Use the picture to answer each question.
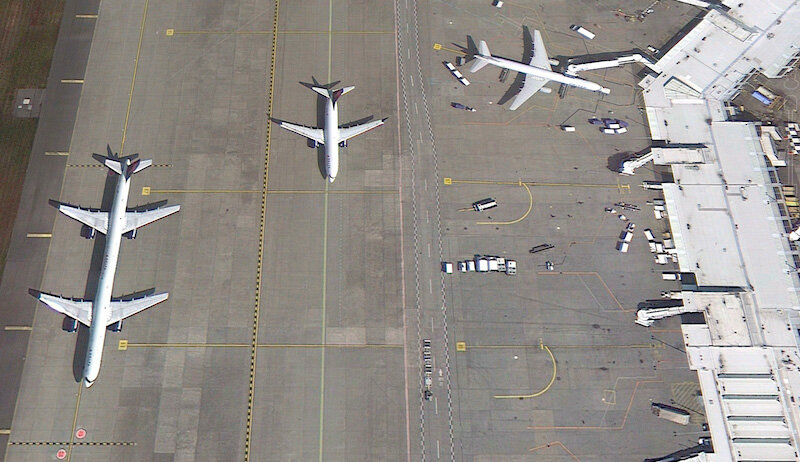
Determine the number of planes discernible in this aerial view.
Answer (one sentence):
The picture shows 3 planes.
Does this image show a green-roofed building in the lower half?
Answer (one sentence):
No, I can find no green-roofed building in the lower half.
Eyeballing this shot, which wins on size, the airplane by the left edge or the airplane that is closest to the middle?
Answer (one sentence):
Of the two, the airplane by the left edge is bigger, while the airplane that is closest to the middle is smaller.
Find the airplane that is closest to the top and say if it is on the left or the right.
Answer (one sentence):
You can find the airplane that is closest to the top on the right side of the picture.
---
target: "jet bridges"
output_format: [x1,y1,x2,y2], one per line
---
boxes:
[565,53,661,77]
[618,151,655,179]
[632,306,686,328]
[676,451,716,462]
[659,0,713,13]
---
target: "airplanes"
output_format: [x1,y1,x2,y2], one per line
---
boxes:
[472,27,610,109]
[37,149,174,388]
[277,74,388,182]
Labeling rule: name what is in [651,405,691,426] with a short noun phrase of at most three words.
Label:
truck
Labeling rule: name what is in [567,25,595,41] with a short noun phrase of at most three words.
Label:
vehicle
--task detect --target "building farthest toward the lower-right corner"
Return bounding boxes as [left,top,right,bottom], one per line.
[680,284,800,462]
